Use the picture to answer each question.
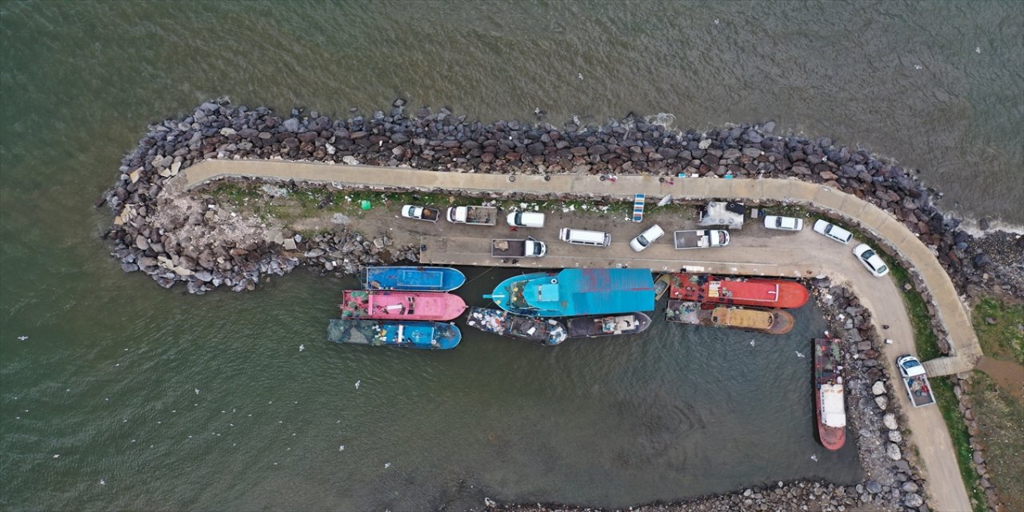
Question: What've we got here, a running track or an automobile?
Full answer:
There is an automobile in the scene.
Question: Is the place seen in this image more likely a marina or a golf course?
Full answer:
This looks like a marina.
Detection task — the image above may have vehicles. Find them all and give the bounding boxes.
[675,228,730,250]
[447,205,497,226]
[812,220,853,244]
[506,209,545,229]
[492,232,547,258]
[763,214,804,233]
[559,227,611,248]
[897,354,940,408]
[852,243,889,278]
[629,225,666,252]
[401,203,440,222]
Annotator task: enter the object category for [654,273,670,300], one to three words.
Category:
boat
